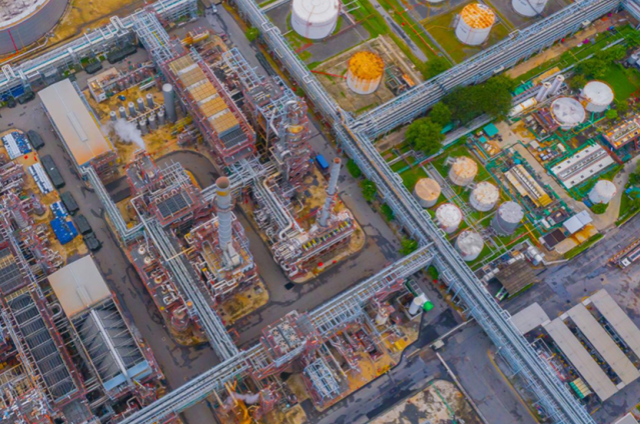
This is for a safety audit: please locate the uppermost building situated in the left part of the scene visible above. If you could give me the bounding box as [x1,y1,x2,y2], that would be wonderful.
[87,72,119,105]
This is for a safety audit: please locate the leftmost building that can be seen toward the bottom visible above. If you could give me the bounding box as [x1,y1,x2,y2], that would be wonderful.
[47,254,110,315]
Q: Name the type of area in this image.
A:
industrial area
